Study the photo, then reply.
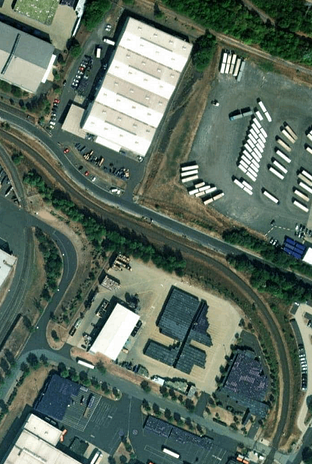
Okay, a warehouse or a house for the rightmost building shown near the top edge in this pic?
warehouse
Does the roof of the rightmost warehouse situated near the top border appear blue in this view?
No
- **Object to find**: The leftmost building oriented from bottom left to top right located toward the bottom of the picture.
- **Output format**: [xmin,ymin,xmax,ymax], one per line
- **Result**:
[90,303,140,363]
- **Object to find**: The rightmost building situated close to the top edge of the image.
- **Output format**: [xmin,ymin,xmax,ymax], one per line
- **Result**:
[83,18,193,161]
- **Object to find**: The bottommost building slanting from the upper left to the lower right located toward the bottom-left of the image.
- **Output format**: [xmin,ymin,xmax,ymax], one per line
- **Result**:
[24,414,62,447]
